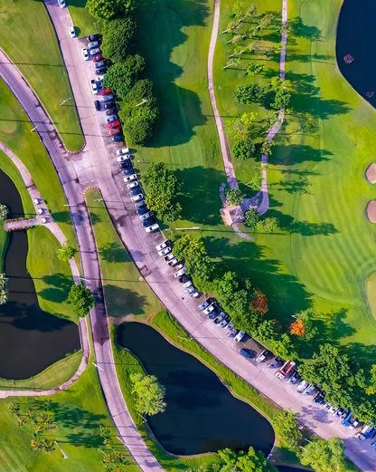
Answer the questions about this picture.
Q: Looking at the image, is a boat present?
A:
No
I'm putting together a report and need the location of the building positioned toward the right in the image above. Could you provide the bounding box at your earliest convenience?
[218,204,243,226]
